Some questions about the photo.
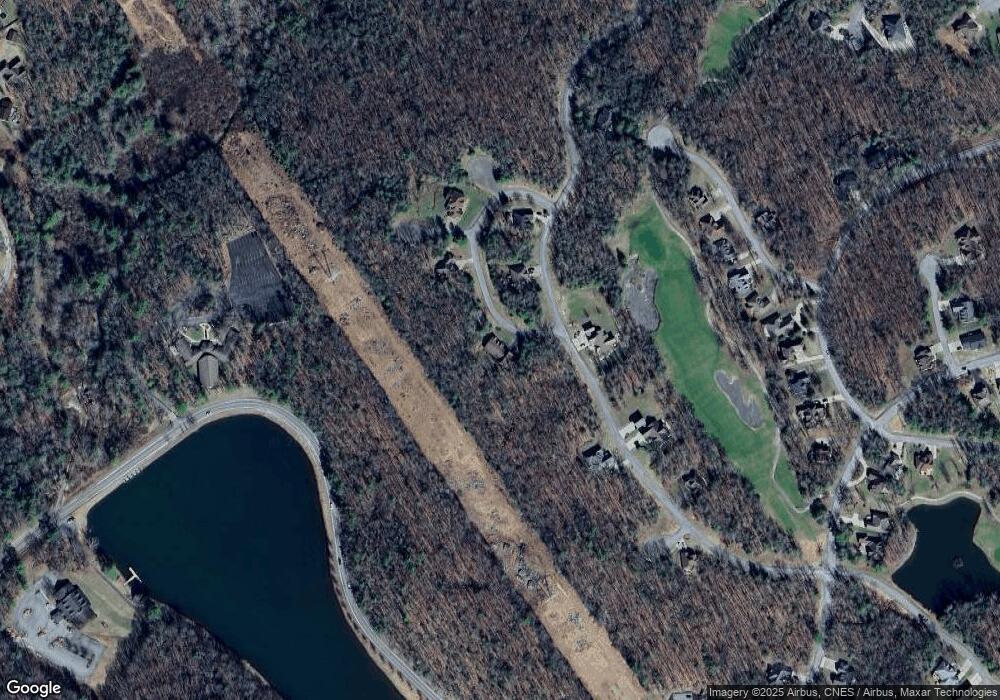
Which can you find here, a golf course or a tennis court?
golf course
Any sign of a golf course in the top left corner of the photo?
No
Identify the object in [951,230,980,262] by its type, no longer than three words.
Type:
house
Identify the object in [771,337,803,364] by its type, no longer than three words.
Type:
house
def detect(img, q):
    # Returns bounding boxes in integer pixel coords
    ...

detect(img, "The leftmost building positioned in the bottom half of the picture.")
[44,579,94,626]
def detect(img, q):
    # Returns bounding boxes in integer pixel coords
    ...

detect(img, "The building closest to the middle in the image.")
[478,333,510,361]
